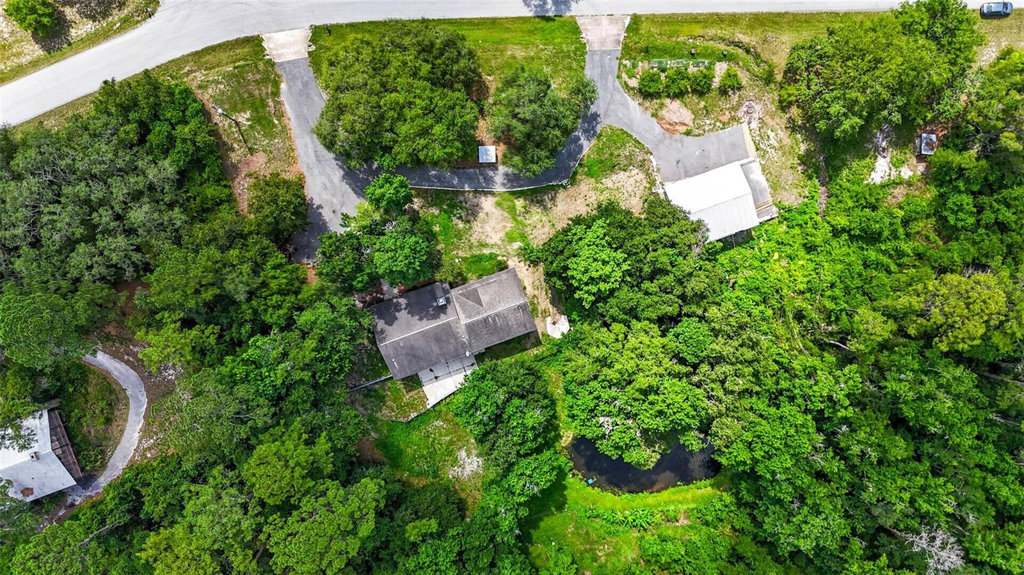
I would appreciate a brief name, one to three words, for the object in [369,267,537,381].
house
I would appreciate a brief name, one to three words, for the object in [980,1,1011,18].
car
